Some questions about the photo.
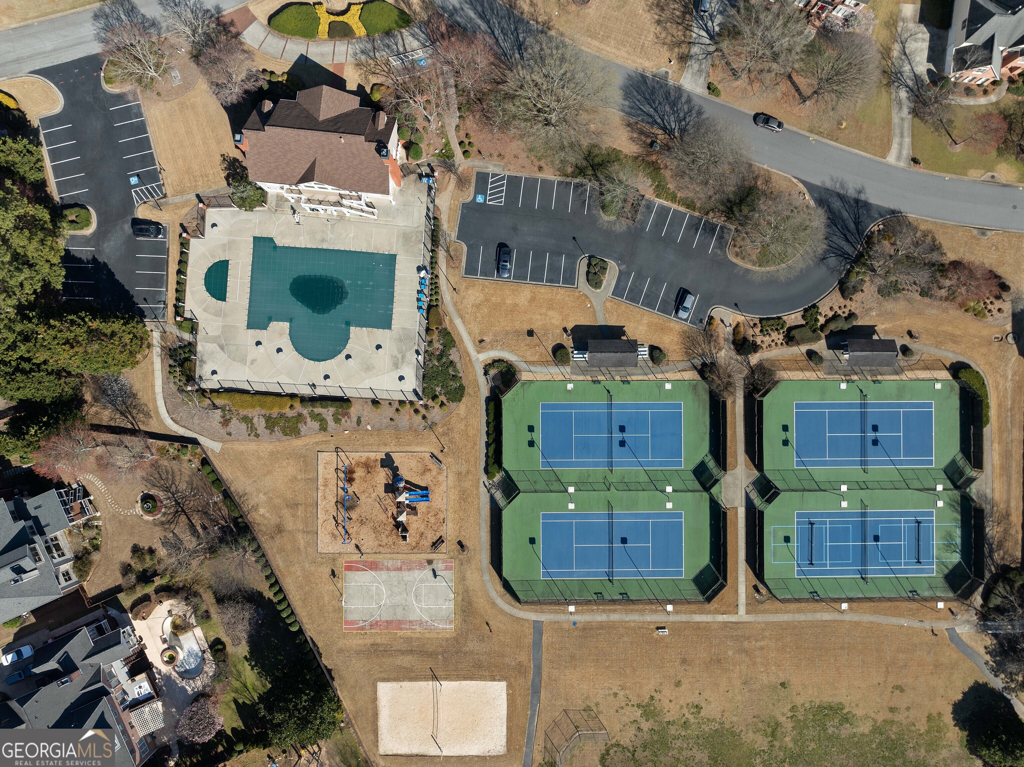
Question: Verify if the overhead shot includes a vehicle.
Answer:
Yes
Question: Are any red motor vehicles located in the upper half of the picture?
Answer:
No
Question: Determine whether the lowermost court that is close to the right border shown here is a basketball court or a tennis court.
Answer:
tennis court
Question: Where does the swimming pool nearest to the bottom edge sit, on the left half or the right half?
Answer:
left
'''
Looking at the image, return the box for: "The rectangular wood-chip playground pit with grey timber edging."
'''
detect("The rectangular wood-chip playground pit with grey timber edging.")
[317,451,447,554]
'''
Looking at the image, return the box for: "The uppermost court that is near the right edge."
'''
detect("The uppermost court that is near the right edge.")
[770,380,973,490]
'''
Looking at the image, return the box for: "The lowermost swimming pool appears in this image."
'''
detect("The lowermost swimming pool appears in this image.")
[159,613,205,679]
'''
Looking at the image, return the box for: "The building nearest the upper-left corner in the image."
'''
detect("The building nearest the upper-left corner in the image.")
[234,85,404,219]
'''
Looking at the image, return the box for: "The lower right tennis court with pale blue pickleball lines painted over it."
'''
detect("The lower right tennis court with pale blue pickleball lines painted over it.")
[757,471,973,600]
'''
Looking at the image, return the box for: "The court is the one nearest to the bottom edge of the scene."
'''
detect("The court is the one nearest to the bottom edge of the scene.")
[378,682,506,756]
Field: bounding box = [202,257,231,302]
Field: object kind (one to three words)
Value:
swimming pool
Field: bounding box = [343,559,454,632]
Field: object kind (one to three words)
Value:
basketball court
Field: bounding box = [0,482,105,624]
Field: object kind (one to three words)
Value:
house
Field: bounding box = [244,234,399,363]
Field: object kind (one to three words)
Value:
swimming pool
